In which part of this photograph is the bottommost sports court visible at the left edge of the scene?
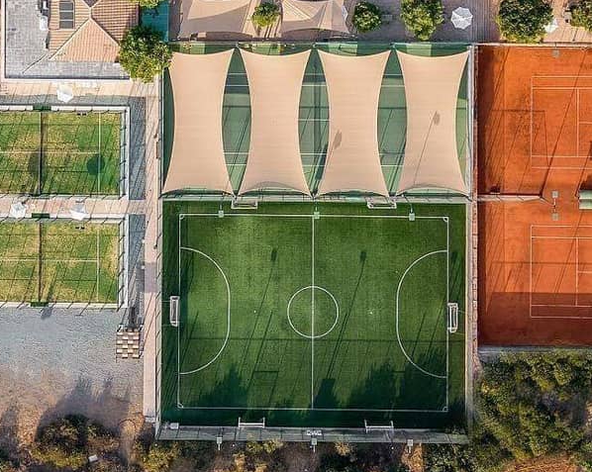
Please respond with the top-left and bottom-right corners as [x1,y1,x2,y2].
[0,215,125,314]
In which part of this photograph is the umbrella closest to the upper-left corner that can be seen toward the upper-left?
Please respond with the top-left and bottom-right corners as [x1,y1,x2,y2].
[58,85,74,101]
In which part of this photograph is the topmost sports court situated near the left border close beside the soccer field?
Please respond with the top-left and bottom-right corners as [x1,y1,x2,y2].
[0,104,127,203]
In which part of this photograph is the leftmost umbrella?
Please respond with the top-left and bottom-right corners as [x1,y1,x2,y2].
[11,200,27,216]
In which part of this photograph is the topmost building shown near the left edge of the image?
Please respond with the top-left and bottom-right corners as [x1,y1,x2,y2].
[2,0,145,80]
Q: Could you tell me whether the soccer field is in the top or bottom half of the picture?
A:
bottom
